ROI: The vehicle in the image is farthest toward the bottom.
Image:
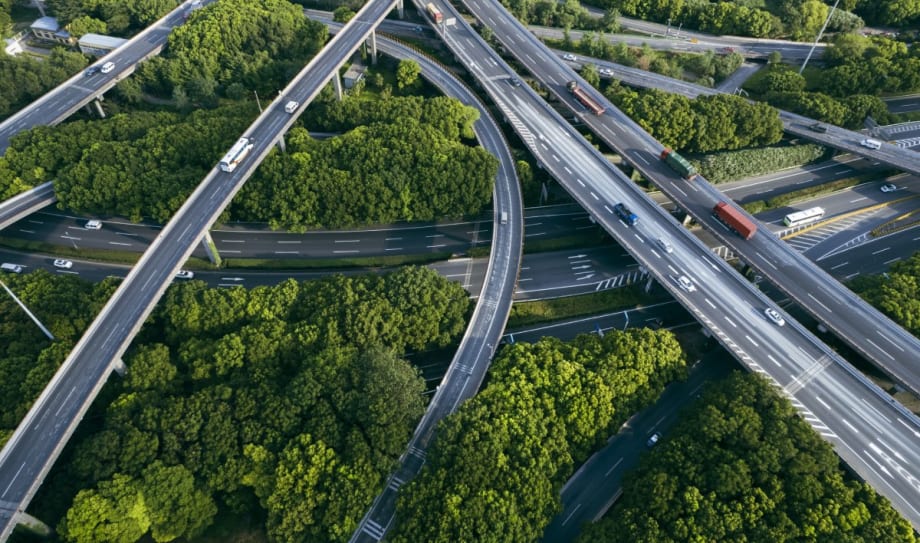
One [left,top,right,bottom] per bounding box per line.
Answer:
[644,431,661,450]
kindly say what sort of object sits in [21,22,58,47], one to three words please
building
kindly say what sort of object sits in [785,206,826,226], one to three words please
vehicle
